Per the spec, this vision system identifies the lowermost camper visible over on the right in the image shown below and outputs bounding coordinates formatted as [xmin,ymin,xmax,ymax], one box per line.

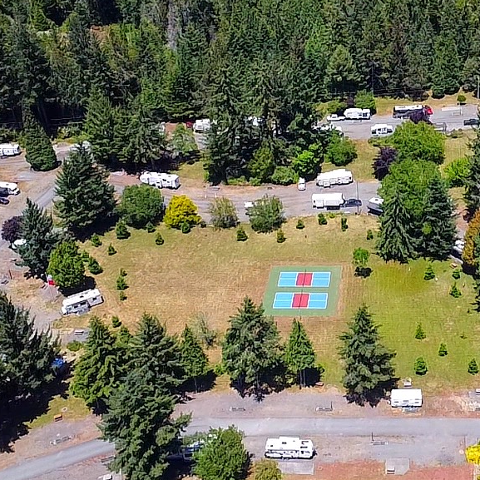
[265,436,316,458]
